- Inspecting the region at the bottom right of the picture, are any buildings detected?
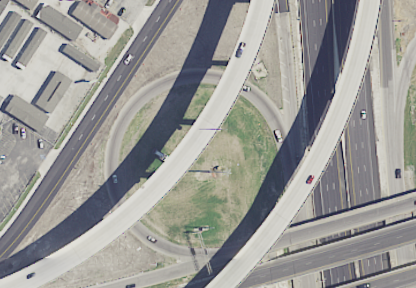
No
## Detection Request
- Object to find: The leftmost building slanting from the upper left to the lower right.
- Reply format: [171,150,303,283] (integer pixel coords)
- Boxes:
[5,96,49,132]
